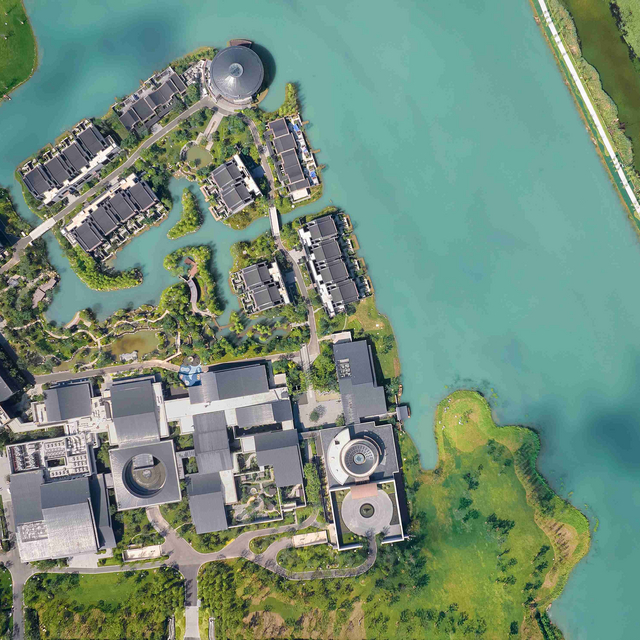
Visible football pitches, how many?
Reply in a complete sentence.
The count of football pitches is 0.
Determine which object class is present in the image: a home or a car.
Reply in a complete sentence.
Visible in the photo is a home.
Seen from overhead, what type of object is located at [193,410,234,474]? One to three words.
building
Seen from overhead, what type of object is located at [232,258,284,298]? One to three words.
house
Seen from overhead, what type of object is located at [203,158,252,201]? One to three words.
house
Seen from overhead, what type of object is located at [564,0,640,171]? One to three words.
pond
